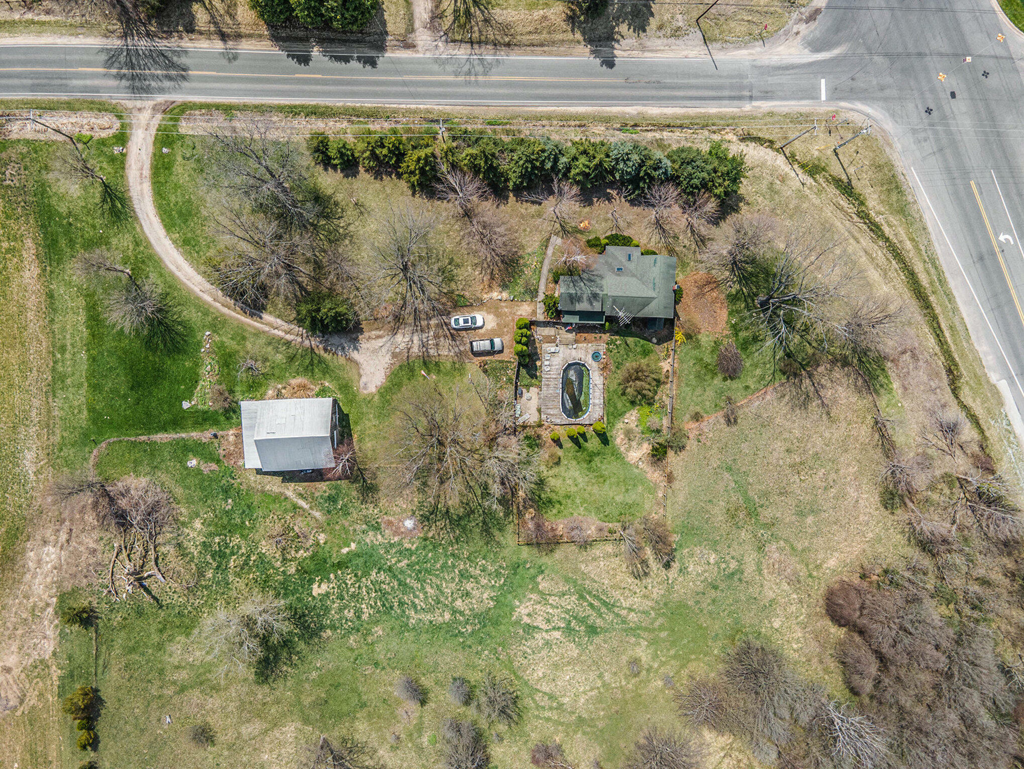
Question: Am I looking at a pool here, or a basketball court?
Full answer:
This aerial view contains a pool.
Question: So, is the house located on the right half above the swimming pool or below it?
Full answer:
The house located on the right half appears above the swimming pool in the picture.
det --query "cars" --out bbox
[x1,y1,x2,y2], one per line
[471,338,504,353]
[451,314,484,330]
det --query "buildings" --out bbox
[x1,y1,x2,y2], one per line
[240,398,340,471]
[560,246,683,331]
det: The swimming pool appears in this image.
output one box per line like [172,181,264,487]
[560,362,592,419]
